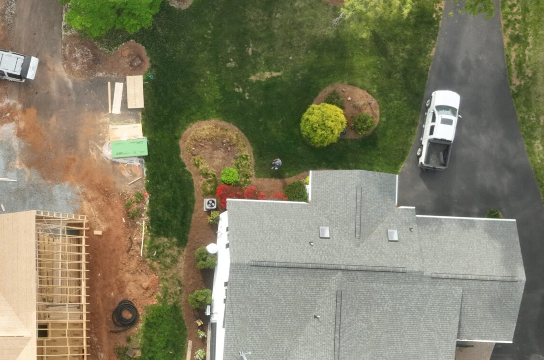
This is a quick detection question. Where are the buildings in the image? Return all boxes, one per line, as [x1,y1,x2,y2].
[0,210,89,360]
[192,169,525,360]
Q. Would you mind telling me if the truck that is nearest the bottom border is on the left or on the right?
right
